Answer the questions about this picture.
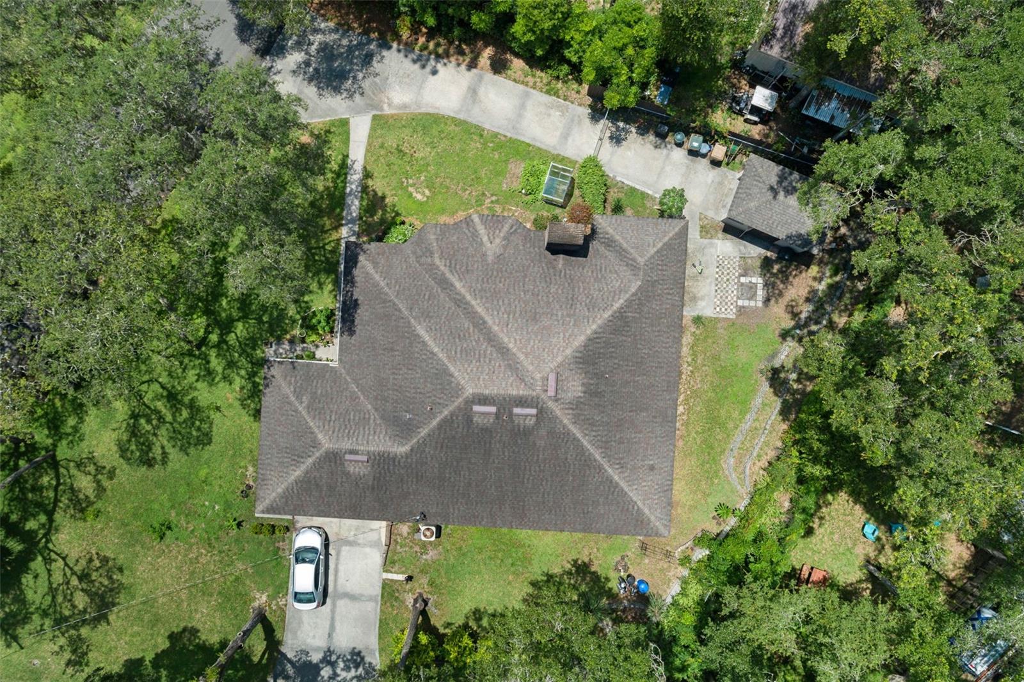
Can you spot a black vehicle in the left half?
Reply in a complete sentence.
No, looking in the left half, there is no black vehicle.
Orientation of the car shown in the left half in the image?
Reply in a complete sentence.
I'd say the car shown in the left half is aligned from top to bottom in the picture.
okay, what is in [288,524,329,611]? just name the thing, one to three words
car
